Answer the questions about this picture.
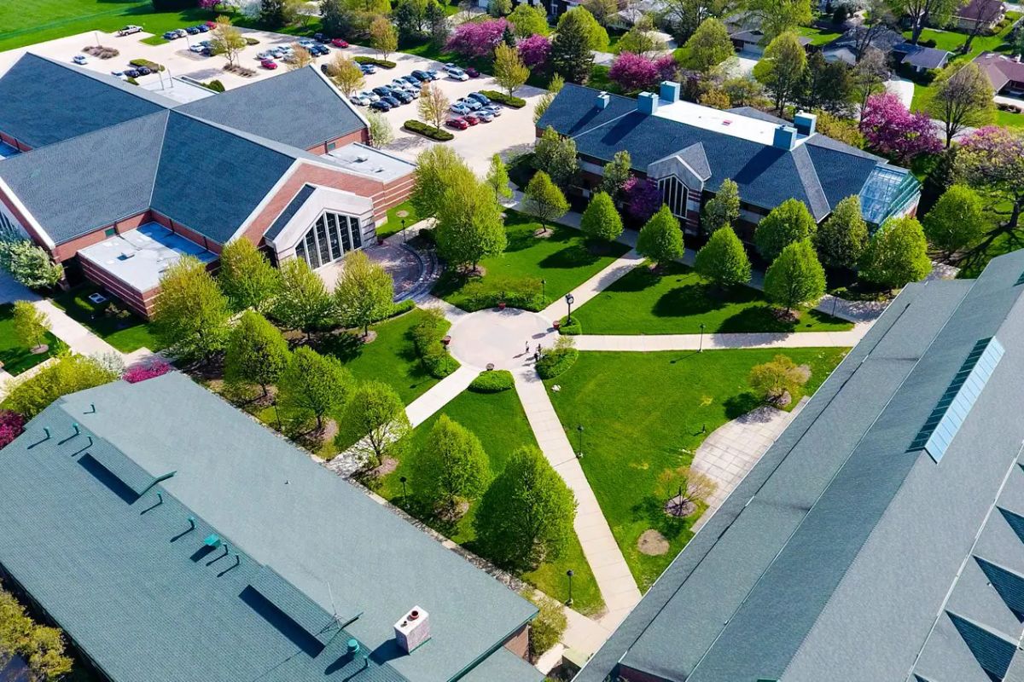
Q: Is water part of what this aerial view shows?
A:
No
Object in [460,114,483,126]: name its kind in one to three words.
vehicle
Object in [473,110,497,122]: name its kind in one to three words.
vehicle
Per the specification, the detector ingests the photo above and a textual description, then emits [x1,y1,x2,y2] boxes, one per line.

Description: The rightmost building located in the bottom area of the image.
[568,257,1024,682]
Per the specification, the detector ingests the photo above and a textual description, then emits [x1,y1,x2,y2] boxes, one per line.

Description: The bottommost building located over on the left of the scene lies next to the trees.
[0,368,546,682]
